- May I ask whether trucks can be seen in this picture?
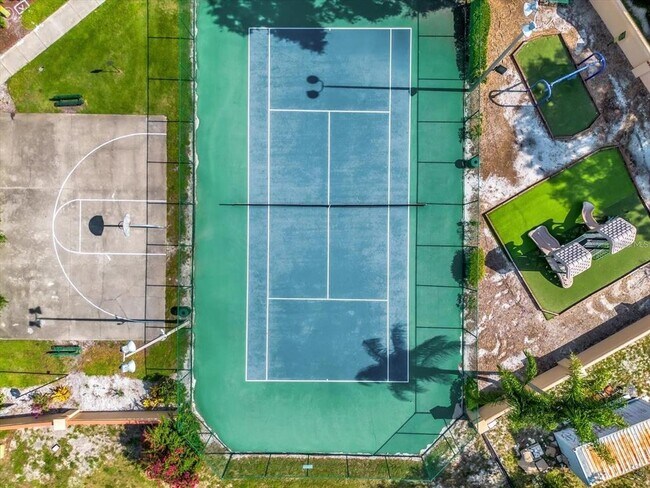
No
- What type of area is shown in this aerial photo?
sports ground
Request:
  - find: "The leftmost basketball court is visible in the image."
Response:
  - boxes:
[0,113,166,340]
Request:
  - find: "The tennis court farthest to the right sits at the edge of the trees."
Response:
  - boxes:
[194,0,465,456]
